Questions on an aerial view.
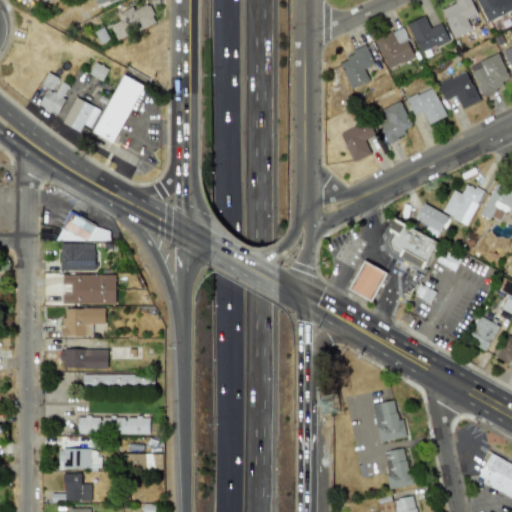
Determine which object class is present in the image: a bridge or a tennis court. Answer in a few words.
bridge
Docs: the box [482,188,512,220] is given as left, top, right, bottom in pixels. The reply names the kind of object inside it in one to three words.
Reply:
house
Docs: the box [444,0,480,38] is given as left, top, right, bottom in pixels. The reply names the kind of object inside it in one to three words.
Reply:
house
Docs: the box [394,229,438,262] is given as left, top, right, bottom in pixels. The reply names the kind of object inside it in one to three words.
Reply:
building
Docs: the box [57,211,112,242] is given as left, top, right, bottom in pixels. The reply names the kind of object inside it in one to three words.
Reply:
building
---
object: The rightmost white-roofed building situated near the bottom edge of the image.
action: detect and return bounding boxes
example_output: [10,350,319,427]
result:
[480,454,512,500]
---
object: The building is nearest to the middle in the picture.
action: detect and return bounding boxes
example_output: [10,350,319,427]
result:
[350,260,386,301]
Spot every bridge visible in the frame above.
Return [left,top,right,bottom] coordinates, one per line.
[208,208,282,306]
